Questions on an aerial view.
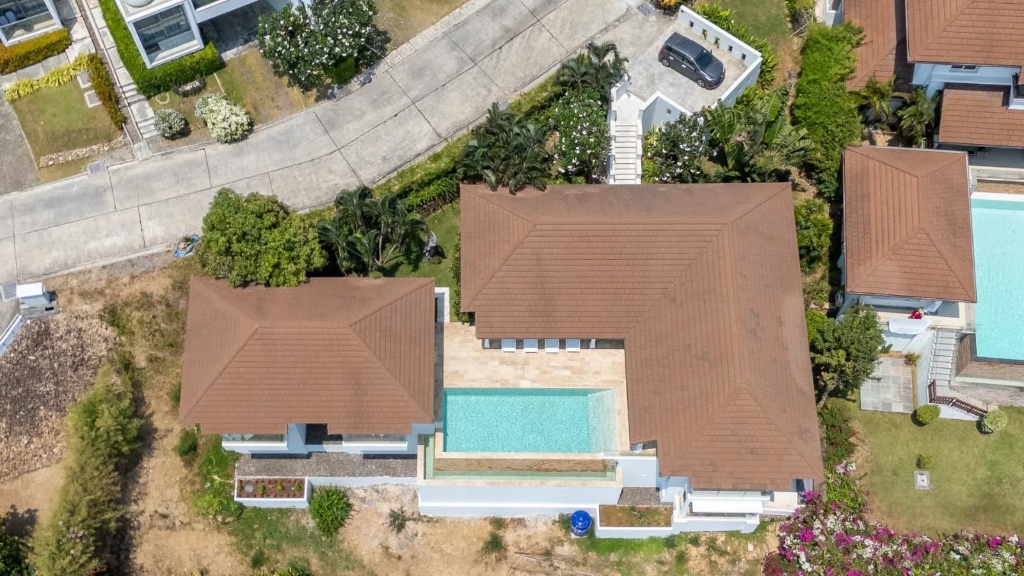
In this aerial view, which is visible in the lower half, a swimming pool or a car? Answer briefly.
swimming pool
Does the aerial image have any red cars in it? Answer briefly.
No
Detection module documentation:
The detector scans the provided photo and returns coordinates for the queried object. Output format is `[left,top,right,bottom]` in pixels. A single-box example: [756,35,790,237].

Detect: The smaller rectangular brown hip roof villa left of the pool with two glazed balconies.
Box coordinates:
[178,275,436,461]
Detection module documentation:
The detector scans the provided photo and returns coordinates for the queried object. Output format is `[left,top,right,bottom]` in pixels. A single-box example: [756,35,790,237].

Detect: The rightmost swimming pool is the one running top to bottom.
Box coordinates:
[947,193,1024,415]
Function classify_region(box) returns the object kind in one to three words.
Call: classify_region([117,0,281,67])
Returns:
house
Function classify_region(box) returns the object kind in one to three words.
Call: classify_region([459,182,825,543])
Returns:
house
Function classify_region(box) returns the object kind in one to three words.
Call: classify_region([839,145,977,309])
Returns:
building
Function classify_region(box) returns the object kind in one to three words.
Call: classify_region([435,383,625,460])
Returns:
swimming pool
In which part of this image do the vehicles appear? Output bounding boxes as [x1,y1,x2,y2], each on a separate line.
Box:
[656,29,726,87]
